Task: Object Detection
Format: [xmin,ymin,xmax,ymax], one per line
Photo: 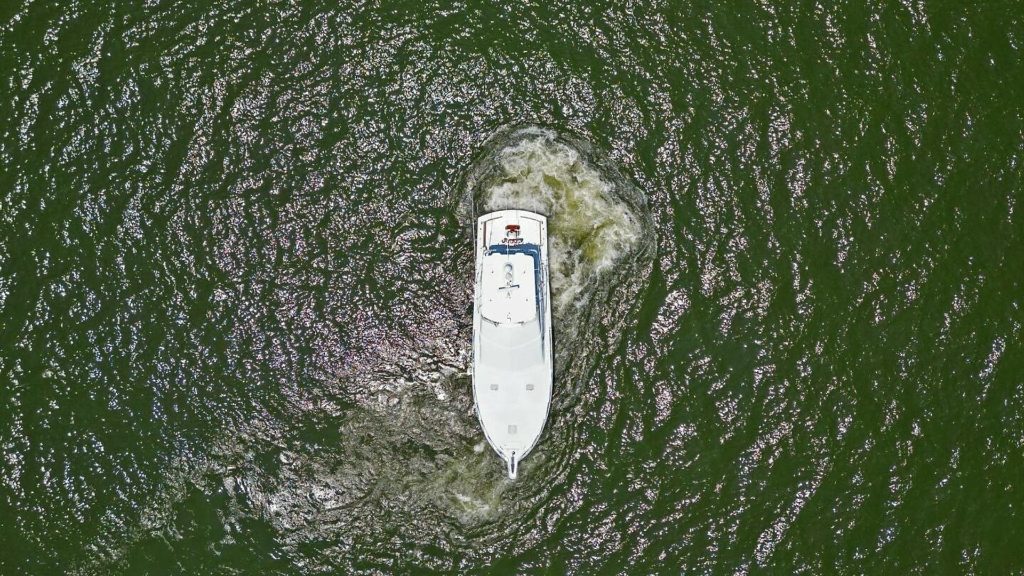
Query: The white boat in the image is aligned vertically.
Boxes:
[472,193,554,482]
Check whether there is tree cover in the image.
No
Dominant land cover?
water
